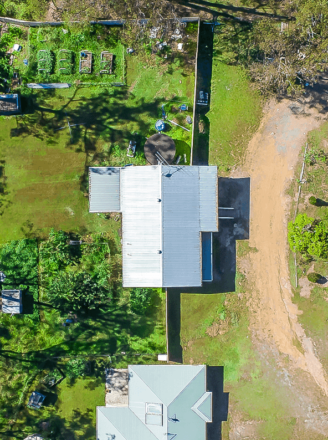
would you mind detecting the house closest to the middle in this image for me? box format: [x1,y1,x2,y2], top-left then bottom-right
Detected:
[87,159,228,287]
